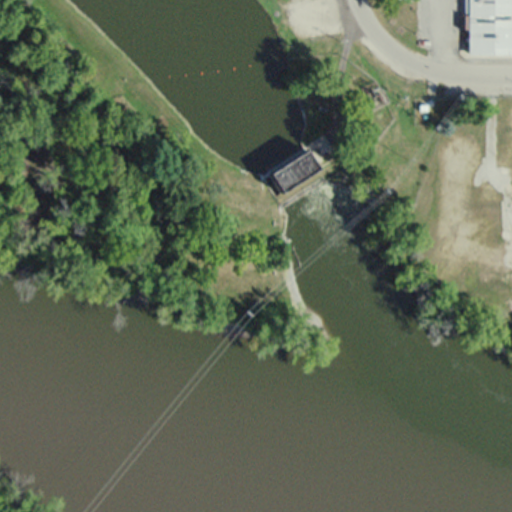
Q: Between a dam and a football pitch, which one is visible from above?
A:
dam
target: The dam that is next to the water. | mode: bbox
[259,136,336,208]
